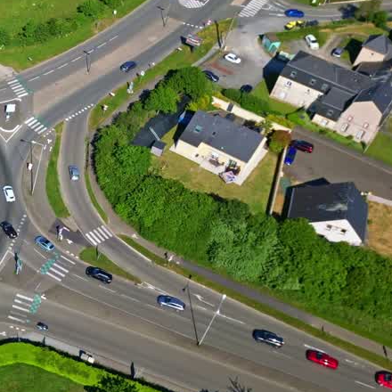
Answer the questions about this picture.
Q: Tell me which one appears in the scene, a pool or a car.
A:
car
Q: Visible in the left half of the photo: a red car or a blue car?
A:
blue car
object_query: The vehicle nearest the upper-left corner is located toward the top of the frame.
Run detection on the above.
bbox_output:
[120,61,138,74]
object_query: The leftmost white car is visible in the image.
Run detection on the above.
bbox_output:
[2,186,16,204]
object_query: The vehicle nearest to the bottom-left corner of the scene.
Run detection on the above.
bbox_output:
[35,321,51,333]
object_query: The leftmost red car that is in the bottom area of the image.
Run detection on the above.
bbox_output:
[307,352,339,370]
